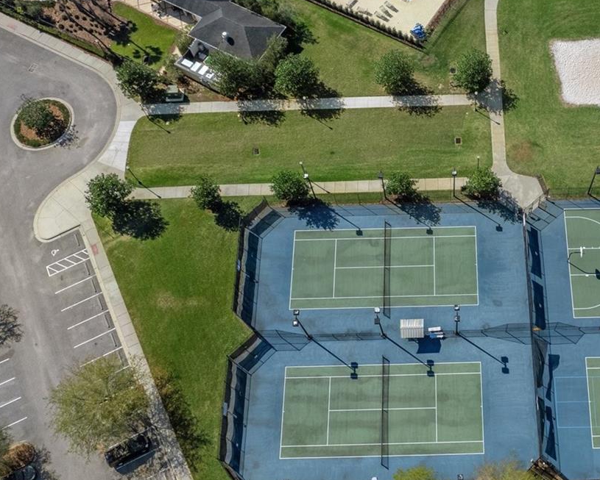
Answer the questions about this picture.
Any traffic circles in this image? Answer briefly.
Yes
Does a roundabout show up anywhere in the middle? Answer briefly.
No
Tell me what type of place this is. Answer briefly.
sports ground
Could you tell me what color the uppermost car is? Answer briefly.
black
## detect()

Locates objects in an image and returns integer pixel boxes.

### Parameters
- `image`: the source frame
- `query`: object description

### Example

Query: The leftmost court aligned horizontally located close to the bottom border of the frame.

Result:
[221,332,539,480]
